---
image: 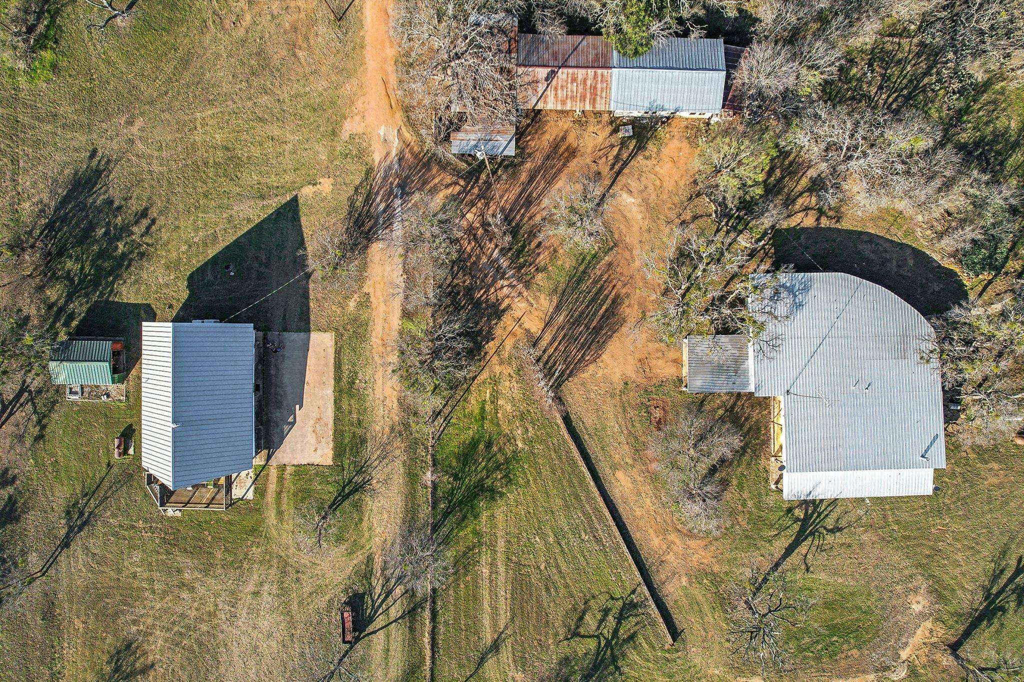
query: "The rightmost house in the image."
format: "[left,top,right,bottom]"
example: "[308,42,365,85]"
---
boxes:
[745,272,942,500]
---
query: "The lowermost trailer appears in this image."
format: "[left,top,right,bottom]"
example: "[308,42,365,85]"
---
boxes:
[338,602,356,652]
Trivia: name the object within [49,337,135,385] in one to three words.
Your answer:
shed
